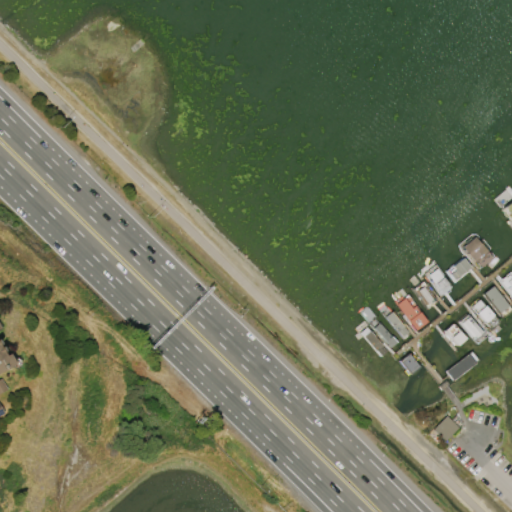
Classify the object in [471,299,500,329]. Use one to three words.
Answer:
house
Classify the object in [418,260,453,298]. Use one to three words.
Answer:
house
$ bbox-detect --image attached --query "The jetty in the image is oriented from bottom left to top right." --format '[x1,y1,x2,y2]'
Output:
[394,256,512,354]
